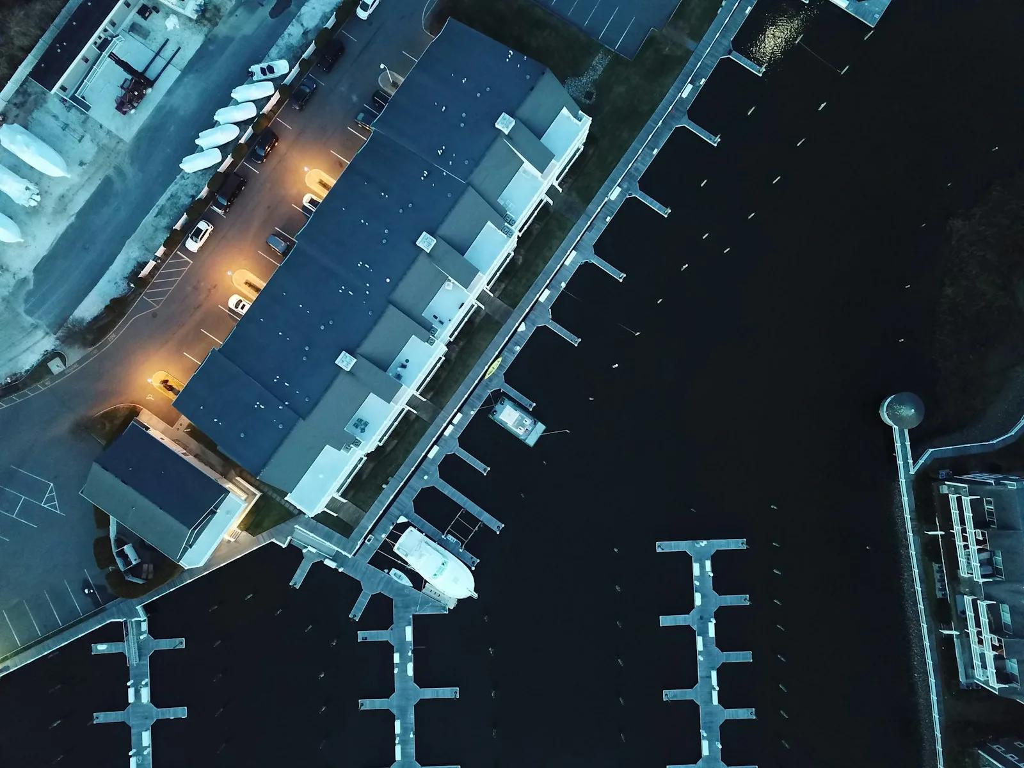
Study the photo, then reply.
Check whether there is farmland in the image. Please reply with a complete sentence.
No, the picture contains no farmland.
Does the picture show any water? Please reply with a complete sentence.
Yes, some water is visible.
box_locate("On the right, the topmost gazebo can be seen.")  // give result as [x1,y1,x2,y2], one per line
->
[879,392,928,431]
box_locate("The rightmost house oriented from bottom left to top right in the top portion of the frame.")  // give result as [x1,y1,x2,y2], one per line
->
[171,17,591,517]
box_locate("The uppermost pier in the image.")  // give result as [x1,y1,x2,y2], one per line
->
[822,0,892,30]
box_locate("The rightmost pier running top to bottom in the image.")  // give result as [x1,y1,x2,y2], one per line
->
[655,538,759,768]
